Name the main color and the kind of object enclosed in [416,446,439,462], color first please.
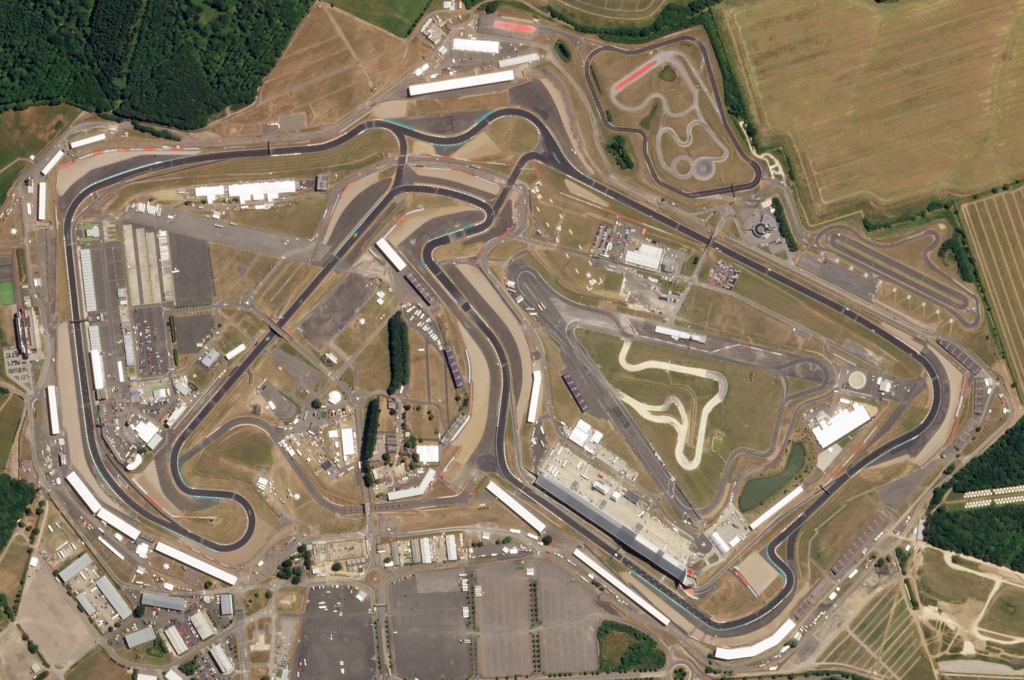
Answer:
white tent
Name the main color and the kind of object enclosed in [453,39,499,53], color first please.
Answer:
white tent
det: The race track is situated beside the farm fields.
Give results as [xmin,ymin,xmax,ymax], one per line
[64,106,941,629]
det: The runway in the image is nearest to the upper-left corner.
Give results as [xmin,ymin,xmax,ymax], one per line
[98,208,330,266]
